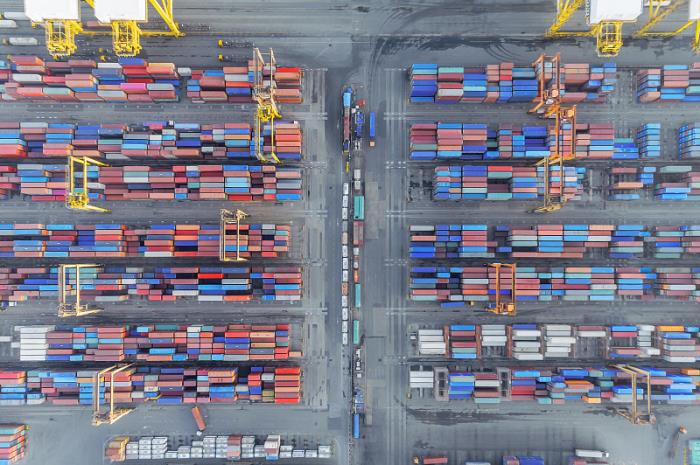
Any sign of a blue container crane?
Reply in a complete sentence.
No, no blue container crane is visible in the scene.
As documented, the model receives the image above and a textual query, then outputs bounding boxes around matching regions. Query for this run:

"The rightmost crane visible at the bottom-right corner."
[602,362,654,432]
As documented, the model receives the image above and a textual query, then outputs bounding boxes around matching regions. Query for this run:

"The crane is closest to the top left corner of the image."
[27,0,111,61]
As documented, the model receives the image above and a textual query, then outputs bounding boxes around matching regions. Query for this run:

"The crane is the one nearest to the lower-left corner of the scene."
[93,362,141,432]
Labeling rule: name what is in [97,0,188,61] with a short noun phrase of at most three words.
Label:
container crane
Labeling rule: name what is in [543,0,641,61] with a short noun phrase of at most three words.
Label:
container crane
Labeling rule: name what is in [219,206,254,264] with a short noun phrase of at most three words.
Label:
crane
